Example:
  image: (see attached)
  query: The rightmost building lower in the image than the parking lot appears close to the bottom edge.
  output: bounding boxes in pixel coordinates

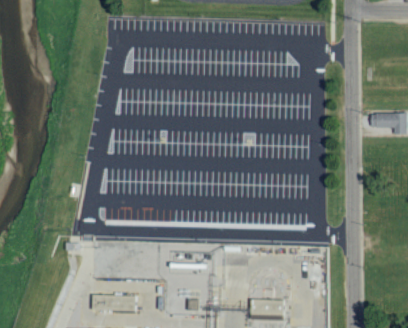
[251,300,286,320]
